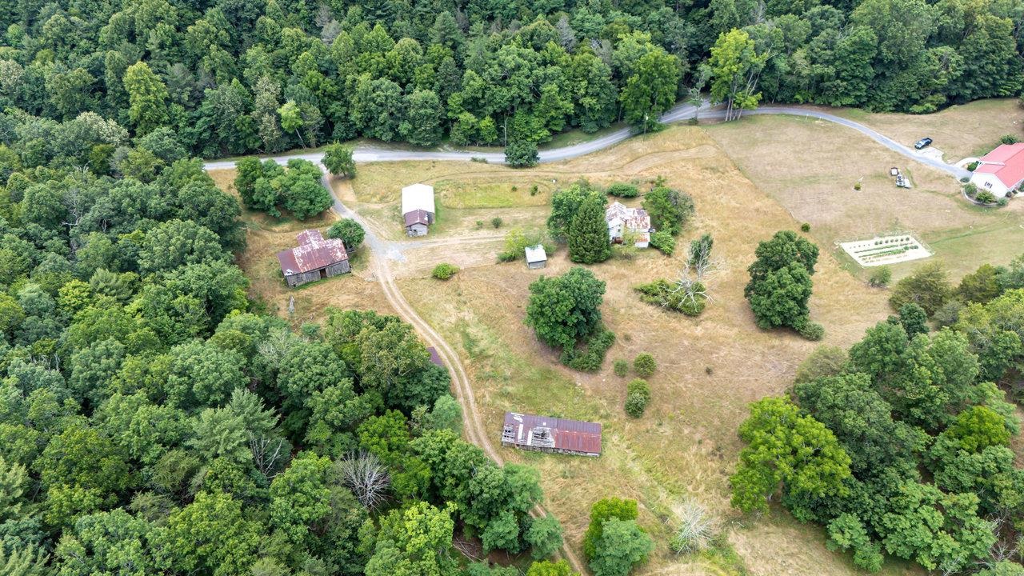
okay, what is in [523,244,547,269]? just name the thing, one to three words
shed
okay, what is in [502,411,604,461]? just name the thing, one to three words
barn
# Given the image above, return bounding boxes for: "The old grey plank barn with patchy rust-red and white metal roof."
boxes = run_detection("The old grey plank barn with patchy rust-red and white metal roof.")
[278,235,359,286]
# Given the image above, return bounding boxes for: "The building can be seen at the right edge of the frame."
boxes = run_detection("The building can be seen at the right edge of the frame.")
[969,148,1024,196]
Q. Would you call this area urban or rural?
rural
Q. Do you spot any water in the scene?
No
